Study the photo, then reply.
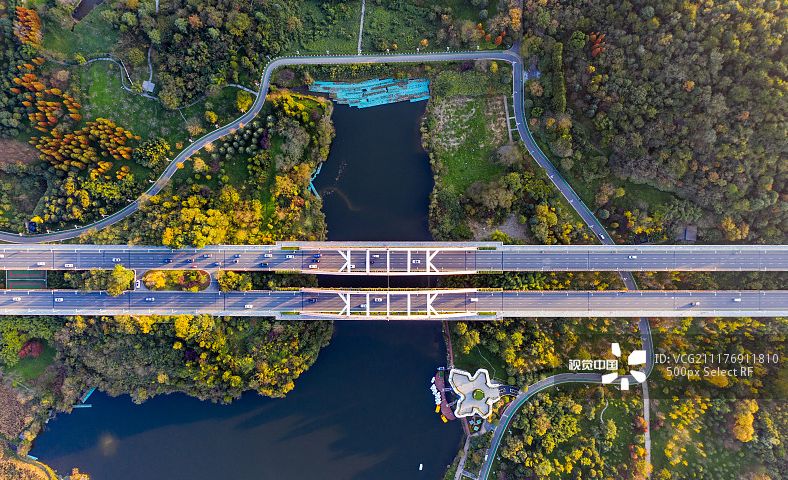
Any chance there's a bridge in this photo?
Yes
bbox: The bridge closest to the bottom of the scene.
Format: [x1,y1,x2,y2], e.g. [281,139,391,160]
[0,288,788,320]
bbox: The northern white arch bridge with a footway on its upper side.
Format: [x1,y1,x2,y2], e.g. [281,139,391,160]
[0,242,788,274]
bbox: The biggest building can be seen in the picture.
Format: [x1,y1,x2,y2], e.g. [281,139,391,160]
[449,368,520,418]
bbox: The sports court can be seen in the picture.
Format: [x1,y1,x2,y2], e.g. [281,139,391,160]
[4,271,48,290]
